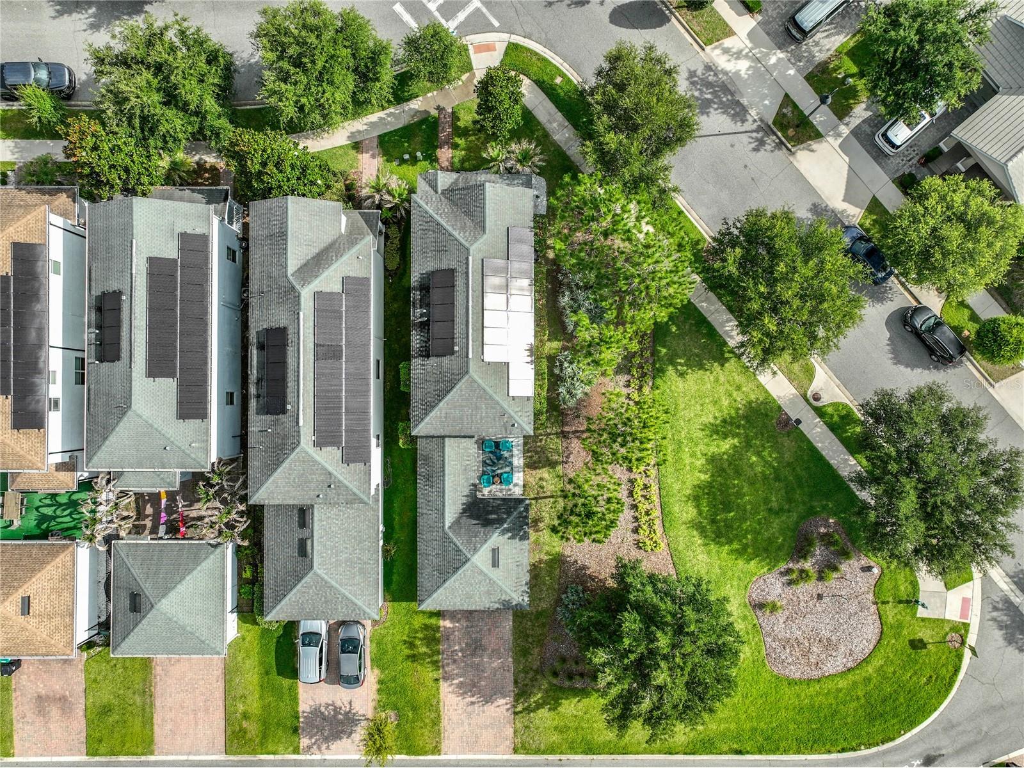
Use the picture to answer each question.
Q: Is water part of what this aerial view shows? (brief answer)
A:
No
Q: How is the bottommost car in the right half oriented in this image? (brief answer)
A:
at an angle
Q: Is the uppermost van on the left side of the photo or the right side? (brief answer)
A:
right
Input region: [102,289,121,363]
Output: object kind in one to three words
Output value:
solar array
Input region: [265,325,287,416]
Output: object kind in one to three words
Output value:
solar array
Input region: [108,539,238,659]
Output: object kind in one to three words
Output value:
building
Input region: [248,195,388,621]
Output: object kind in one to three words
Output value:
house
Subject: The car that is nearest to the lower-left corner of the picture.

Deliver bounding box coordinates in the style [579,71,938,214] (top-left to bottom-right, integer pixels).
[296,620,331,680]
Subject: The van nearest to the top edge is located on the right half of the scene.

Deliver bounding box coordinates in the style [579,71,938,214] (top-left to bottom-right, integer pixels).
[783,0,849,42]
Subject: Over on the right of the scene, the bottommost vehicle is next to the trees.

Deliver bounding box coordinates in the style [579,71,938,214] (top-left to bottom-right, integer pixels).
[900,302,969,370]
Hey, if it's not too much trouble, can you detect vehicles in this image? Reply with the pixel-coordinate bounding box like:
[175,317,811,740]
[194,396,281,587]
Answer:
[0,63,82,103]
[839,223,893,290]
[296,620,331,680]
[900,302,969,370]
[334,620,368,689]
[872,102,935,159]
[783,0,849,42]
